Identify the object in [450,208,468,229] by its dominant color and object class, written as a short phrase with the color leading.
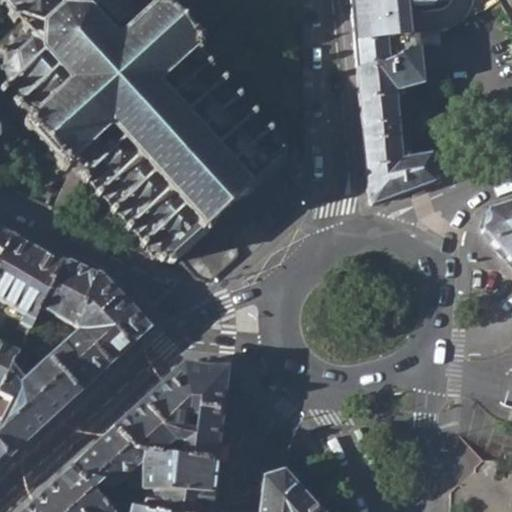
white car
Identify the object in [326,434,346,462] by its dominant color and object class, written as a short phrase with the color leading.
white vehicle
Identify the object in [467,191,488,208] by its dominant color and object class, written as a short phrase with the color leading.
white car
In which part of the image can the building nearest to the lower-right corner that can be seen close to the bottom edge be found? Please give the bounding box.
[260,466,321,512]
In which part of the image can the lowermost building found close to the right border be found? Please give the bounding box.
[481,198,512,264]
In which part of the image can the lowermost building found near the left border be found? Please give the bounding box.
[22,460,105,512]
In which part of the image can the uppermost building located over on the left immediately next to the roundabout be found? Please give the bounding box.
[0,0,292,270]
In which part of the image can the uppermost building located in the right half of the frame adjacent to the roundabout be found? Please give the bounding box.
[352,0,438,207]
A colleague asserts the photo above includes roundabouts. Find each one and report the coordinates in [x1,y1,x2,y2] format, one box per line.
[258,222,461,424]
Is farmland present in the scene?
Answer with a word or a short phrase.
No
